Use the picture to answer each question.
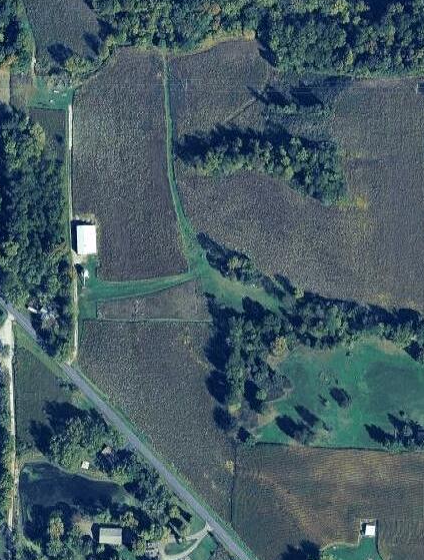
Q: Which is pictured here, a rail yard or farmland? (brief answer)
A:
farmland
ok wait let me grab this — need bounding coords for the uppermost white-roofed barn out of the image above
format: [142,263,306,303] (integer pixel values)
[76,226,96,254]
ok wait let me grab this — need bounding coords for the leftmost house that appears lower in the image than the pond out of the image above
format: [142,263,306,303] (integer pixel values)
[98,528,121,543]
